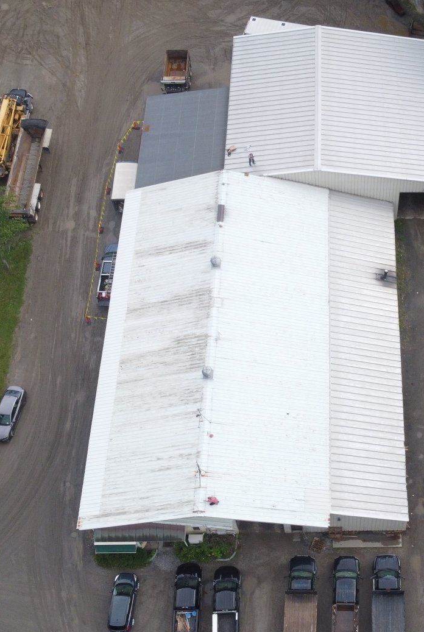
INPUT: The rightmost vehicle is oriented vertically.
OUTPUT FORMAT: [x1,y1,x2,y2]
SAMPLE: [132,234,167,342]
[368,557,406,632]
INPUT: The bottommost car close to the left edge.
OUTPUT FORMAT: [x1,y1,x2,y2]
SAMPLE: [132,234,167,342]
[0,387,27,439]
